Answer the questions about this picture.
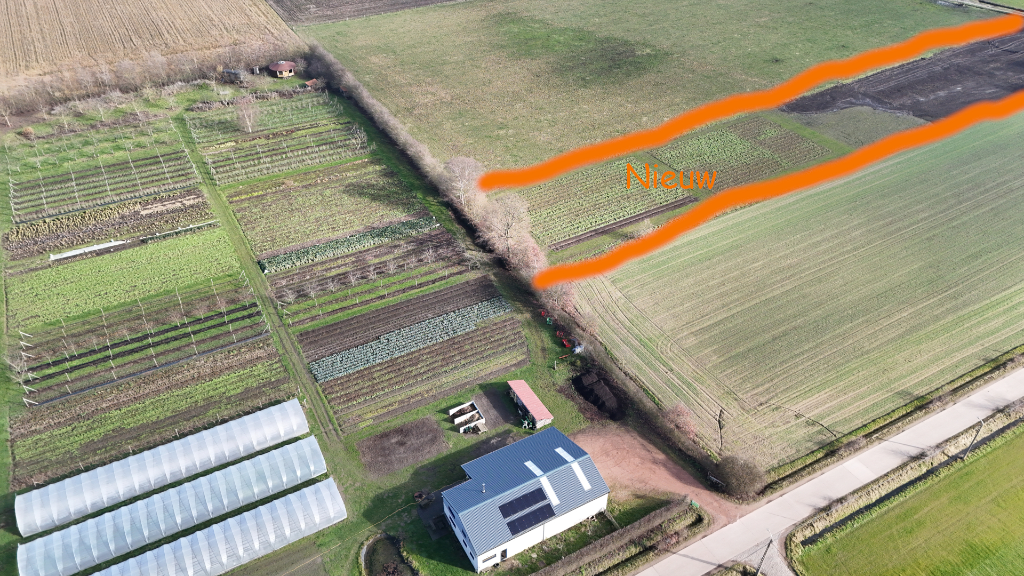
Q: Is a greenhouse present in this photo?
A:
Yes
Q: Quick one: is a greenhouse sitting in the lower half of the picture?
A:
Yes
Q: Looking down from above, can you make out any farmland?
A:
Yes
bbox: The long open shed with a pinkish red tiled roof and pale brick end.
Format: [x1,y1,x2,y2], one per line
[507,380,555,431]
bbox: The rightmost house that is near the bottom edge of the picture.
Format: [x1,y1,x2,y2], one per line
[440,428,612,572]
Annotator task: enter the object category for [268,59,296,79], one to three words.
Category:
shed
